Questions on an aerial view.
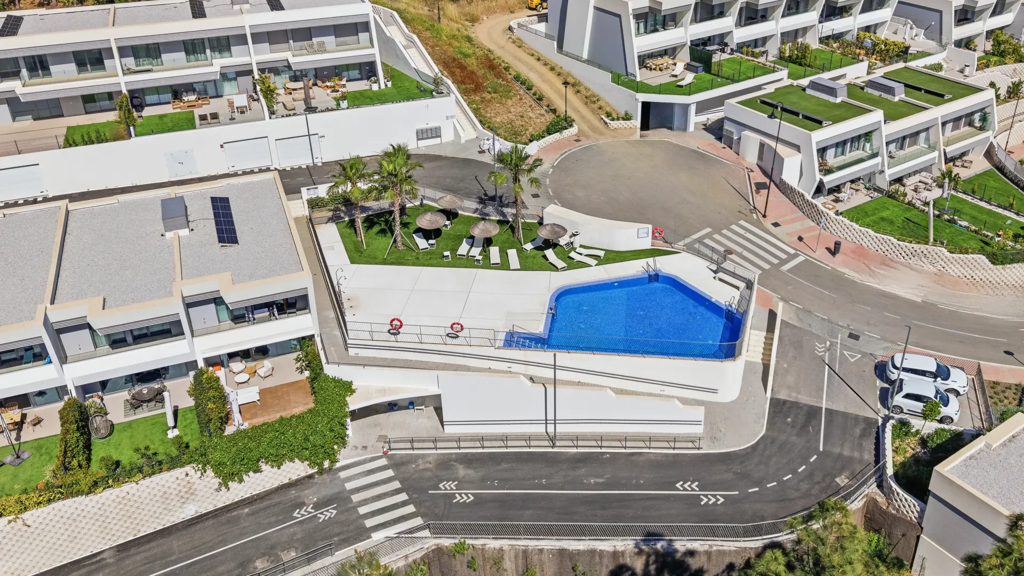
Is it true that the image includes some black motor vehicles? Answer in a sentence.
No, I can see no black motor vehicle in this picture.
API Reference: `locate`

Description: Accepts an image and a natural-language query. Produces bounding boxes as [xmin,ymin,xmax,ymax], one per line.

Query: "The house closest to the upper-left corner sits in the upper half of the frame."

[0,5,122,122]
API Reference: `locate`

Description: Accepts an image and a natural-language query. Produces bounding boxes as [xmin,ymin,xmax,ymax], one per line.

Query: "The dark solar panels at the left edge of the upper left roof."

[0,11,22,37]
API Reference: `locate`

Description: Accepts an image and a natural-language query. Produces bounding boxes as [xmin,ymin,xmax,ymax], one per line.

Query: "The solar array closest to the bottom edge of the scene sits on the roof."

[217,192,240,246]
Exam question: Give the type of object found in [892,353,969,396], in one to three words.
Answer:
car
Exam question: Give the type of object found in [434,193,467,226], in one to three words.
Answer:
umbrella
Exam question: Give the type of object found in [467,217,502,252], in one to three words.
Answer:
umbrella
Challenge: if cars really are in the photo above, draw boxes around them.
[892,353,969,396]
[894,386,961,428]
